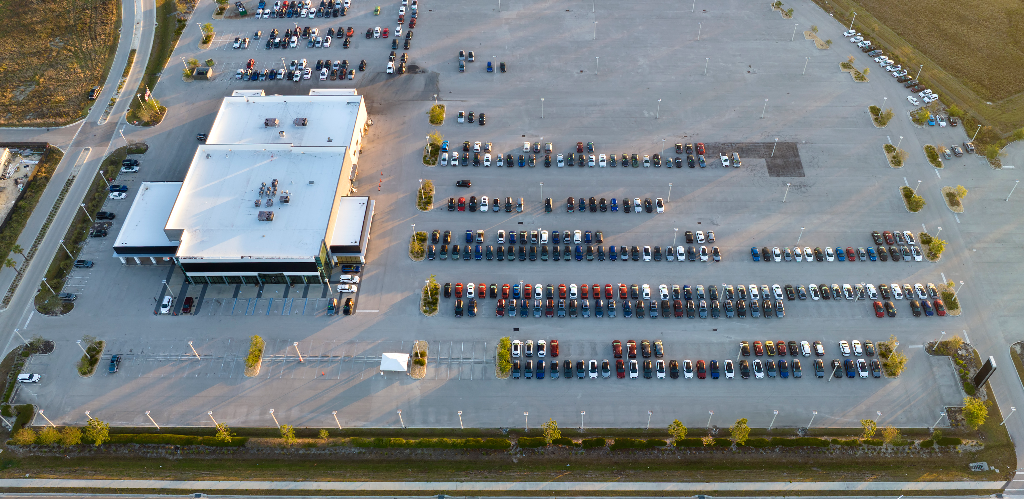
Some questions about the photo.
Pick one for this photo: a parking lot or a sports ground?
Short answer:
parking lot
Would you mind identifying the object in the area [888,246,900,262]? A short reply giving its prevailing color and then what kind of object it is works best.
black vehicle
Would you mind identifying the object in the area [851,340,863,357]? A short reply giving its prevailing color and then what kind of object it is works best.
white vehicle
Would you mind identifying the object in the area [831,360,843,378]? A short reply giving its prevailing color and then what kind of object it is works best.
black vehicle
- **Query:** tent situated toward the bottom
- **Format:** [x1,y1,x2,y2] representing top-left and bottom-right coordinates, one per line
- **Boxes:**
[380,353,409,376]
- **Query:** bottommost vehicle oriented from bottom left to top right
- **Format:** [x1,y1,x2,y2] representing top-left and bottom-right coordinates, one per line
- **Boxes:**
[106,354,124,374]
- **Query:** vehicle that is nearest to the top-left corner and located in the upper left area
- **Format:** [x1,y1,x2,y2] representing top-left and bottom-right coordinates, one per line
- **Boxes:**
[89,86,102,99]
